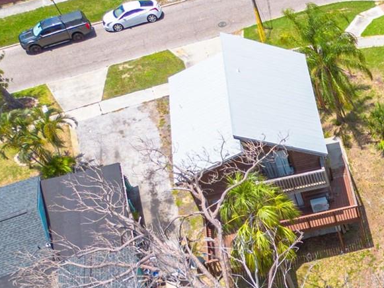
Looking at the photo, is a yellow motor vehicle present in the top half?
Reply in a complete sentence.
No, there's no yellow motor vehicle to be seen in the top half.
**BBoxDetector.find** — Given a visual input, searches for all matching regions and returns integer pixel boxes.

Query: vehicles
[9,0,95,51]
[97,0,165,30]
